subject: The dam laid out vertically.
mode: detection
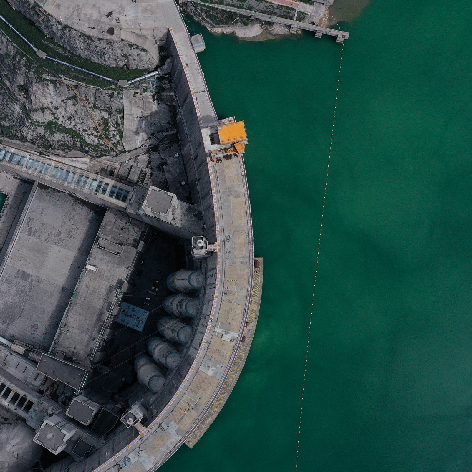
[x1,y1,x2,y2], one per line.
[29,0,264,472]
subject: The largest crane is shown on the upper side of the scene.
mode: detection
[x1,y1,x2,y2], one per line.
[201,119,249,164]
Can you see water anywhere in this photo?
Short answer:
Yes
